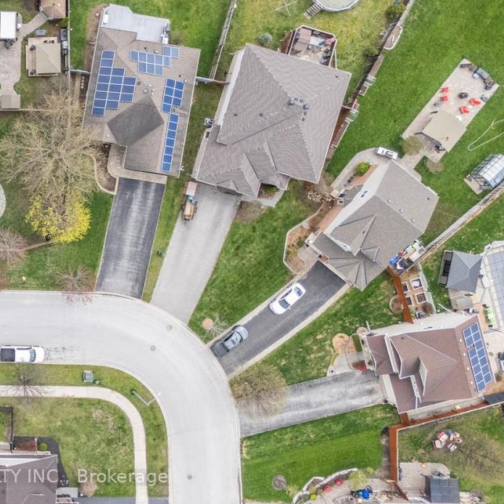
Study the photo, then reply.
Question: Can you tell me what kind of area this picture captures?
residential area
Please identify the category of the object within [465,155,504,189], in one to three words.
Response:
greenhouse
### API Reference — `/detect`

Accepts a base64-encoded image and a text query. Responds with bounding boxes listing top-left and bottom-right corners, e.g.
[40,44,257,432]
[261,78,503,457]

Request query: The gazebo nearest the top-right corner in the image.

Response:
[417,110,465,153]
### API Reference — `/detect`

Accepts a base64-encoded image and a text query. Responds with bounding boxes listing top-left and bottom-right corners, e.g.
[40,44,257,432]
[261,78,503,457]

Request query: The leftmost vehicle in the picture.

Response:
[0,345,44,365]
